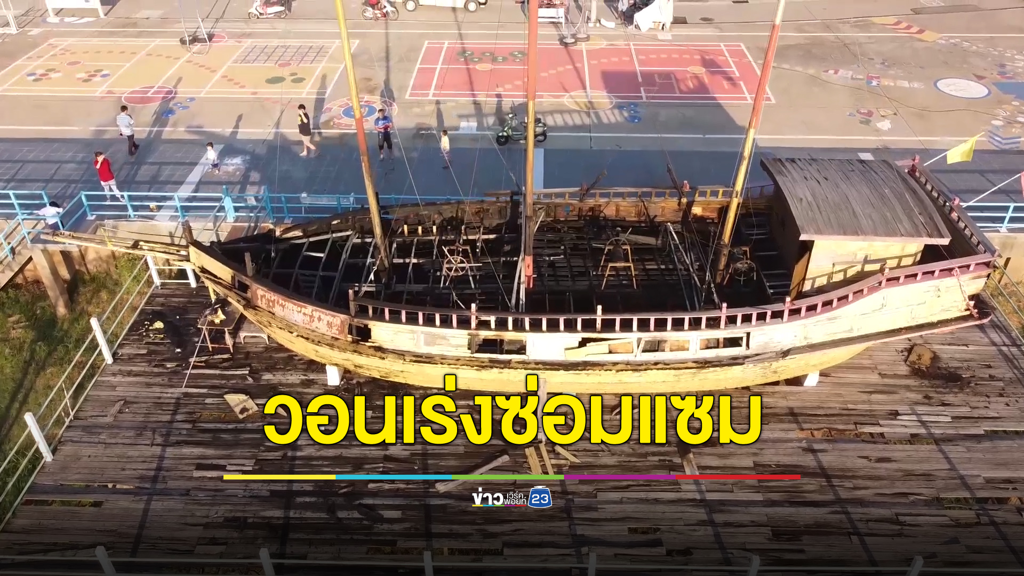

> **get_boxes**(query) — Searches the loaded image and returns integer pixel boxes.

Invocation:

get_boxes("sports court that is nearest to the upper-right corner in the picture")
[406,35,775,112]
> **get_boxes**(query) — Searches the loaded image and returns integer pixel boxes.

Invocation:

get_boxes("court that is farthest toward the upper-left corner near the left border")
[0,32,357,107]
